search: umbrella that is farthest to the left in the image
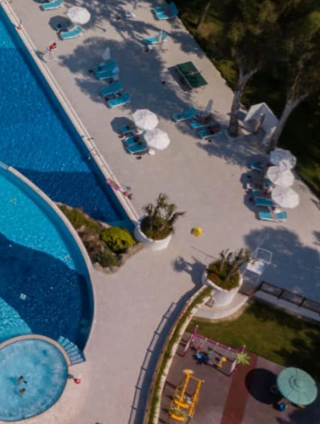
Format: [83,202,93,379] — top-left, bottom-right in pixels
[66,9,90,28]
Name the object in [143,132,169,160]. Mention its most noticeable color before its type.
white umbrella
